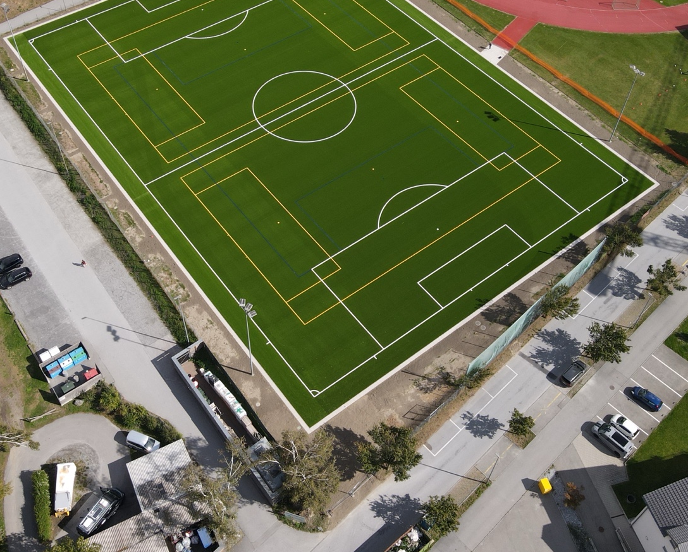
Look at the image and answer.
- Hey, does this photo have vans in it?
Yes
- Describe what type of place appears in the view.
sports ground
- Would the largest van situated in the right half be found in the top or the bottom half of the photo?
bottom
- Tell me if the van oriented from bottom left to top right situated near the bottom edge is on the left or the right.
left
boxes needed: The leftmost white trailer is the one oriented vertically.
[55,458,78,526]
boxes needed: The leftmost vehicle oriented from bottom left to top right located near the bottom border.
[79,488,127,537]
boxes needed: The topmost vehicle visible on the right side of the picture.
[559,357,589,390]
